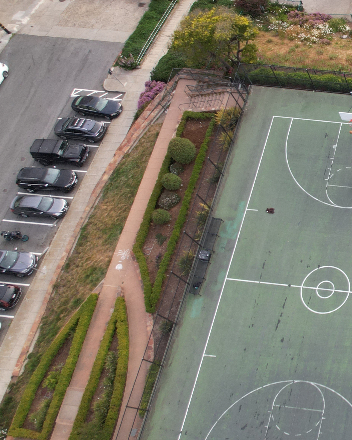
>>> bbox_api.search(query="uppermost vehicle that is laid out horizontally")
[70,95,125,121]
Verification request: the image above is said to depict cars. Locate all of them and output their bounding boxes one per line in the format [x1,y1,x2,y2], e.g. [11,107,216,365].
[70,95,125,121]
[53,116,109,143]
[0,249,40,278]
[0,285,24,313]
[10,193,71,222]
[0,60,12,86]
[30,138,91,168]
[14,165,79,195]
